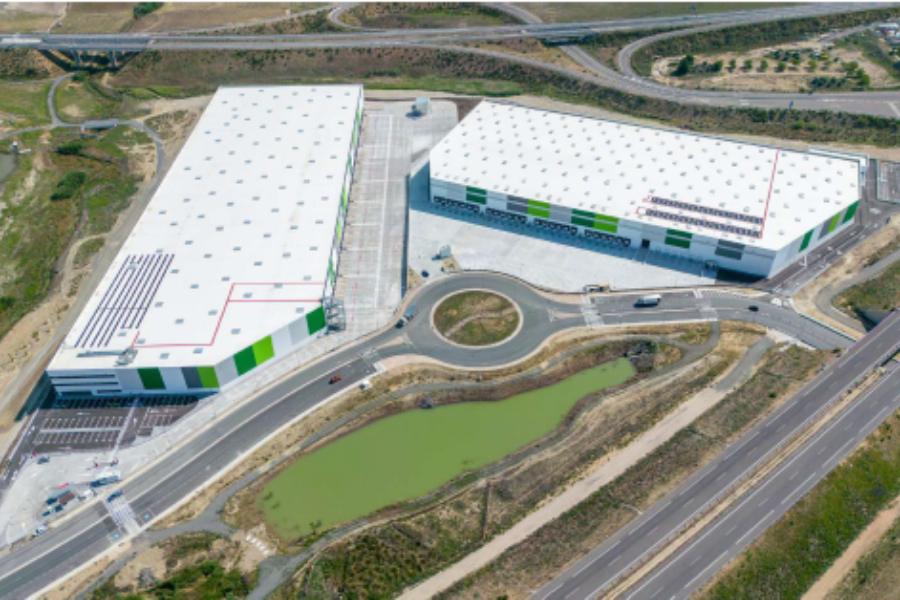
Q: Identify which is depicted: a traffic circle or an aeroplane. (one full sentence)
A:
I can see a traffic circle in this picture.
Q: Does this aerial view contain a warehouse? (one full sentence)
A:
Yes, the frame does contain a warehouse.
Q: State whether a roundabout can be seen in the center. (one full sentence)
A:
Yes, there is a roundabout in the center.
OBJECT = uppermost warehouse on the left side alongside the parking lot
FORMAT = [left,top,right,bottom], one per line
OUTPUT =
[47,83,367,396]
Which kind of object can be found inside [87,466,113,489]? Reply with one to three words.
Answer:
truck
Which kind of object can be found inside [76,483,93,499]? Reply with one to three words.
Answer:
vehicle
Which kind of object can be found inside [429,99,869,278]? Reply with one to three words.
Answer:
warehouse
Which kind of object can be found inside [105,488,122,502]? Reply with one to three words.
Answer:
vehicle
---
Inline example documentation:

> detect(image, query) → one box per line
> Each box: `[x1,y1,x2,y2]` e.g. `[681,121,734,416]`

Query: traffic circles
[371,275,560,369]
